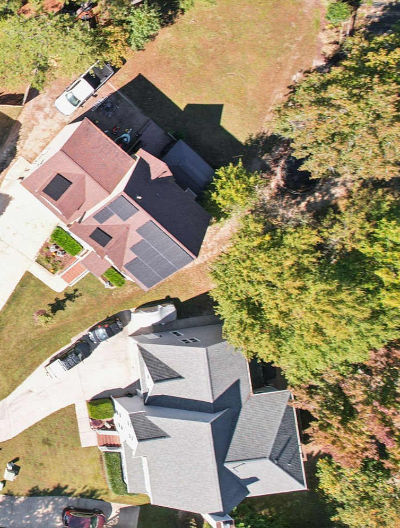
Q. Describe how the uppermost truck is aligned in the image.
at an angle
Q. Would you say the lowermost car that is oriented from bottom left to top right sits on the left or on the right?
left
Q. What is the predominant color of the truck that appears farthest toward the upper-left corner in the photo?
white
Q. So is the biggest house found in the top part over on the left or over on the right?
left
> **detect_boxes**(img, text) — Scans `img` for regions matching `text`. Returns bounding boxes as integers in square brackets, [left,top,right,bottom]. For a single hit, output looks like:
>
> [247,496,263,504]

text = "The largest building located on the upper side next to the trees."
[13,116,211,292]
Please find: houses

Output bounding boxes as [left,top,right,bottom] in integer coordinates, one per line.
[13,116,211,292]
[97,329,307,528]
